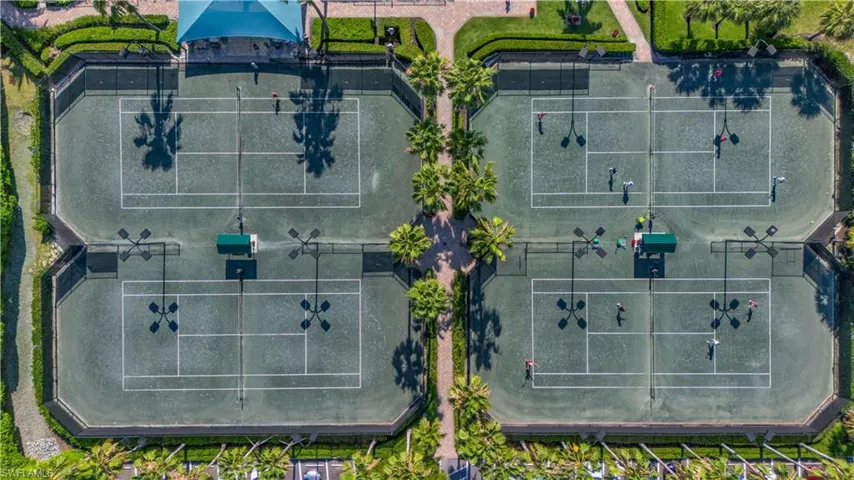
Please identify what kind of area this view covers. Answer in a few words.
sports ground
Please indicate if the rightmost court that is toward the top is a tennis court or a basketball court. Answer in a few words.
tennis court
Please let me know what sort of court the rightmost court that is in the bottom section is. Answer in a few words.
tennis court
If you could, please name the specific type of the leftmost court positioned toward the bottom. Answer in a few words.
tennis court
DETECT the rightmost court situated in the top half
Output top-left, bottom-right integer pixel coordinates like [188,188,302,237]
[468,59,837,244]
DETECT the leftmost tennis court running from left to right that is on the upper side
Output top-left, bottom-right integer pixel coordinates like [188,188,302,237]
[50,59,426,243]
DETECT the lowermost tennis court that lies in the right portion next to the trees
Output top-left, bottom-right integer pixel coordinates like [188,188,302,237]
[468,243,836,428]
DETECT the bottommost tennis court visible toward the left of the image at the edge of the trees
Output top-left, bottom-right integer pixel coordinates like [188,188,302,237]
[52,242,426,429]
